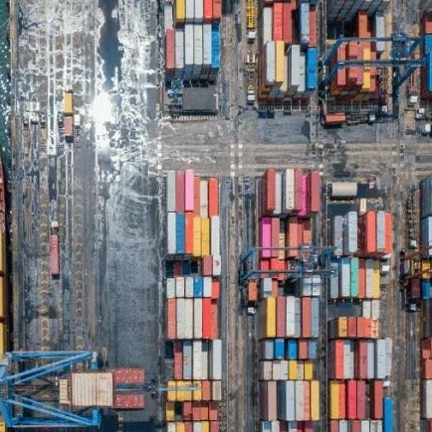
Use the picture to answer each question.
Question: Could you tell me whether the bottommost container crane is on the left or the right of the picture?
left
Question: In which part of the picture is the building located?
top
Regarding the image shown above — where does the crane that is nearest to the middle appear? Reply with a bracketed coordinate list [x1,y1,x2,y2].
[238,245,339,286]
